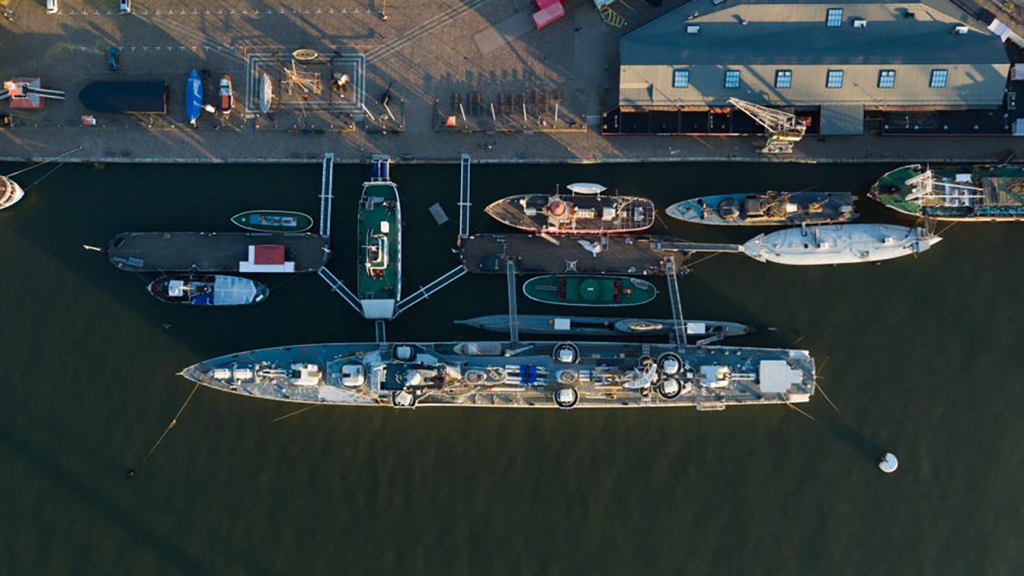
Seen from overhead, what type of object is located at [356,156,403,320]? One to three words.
ship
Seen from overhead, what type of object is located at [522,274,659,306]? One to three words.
vessel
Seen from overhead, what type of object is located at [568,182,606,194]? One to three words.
boat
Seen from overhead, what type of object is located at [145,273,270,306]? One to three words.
boat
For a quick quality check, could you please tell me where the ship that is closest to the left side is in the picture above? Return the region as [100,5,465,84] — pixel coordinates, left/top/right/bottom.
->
[0,178,23,215]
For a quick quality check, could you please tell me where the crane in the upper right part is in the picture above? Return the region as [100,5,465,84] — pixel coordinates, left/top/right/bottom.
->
[715,95,812,155]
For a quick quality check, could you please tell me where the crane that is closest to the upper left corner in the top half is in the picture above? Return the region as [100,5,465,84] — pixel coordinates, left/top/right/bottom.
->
[0,78,66,115]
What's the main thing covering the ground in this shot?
water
